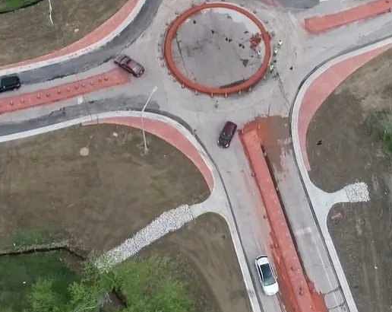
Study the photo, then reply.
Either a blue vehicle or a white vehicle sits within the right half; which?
white vehicle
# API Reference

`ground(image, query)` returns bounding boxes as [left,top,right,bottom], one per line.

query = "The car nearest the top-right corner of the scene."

[216,118,239,152]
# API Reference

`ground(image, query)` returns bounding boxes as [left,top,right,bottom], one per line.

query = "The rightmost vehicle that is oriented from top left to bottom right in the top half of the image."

[113,52,146,80]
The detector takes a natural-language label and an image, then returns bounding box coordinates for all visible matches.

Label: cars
[254,255,279,297]
[113,52,146,80]
[216,118,239,152]
[0,75,22,93]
